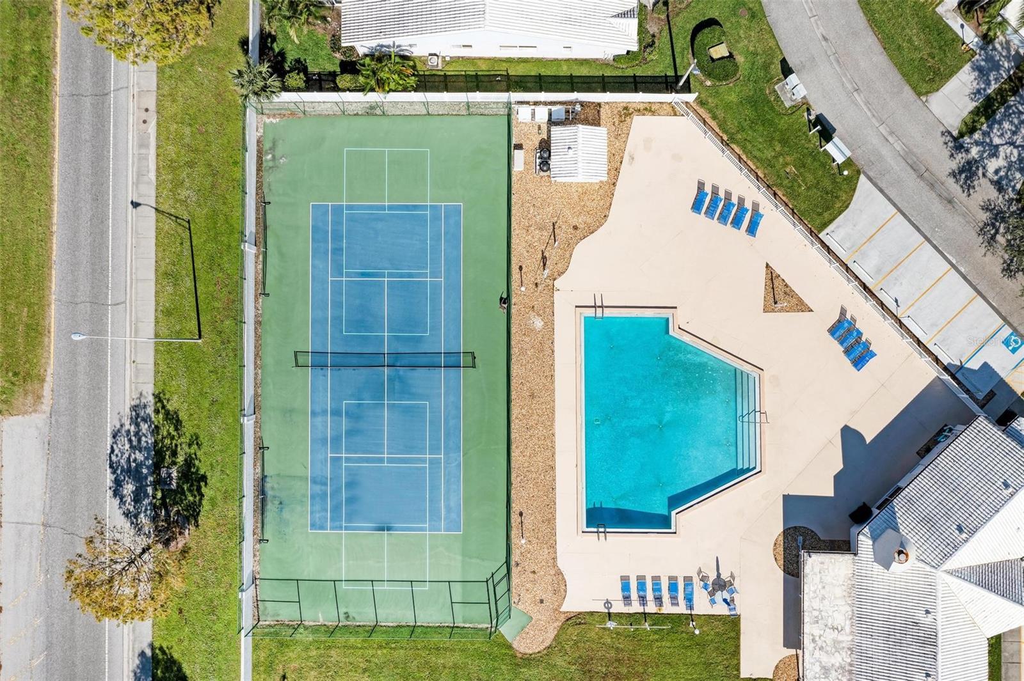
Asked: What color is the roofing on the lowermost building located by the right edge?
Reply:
white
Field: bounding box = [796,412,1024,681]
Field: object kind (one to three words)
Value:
building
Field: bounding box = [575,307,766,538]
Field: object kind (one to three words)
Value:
swimming pool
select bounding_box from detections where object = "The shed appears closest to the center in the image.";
[551,124,608,185]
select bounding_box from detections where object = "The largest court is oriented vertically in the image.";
[259,115,513,626]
